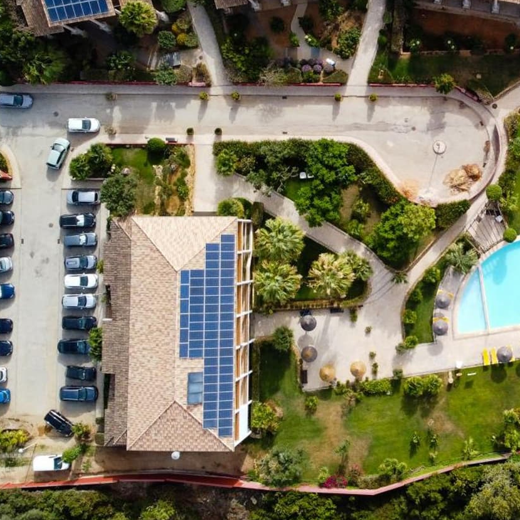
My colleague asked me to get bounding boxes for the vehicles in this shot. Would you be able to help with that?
[61,231,101,249]
[0,316,13,333]
[61,273,102,292]
[39,406,78,439]
[0,255,18,274]
[58,212,98,231]
[62,253,99,272]
[54,338,94,356]
[0,387,13,404]
[45,136,72,172]
[0,366,8,382]
[64,188,102,207]
[64,115,104,134]
[59,314,100,333]
[0,188,19,207]
[0,232,19,249]
[0,339,13,356]
[27,453,71,474]
[59,292,99,311]
[64,365,100,384]
[59,384,99,404]
[0,282,19,300]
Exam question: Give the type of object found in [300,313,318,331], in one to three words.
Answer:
umbrella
